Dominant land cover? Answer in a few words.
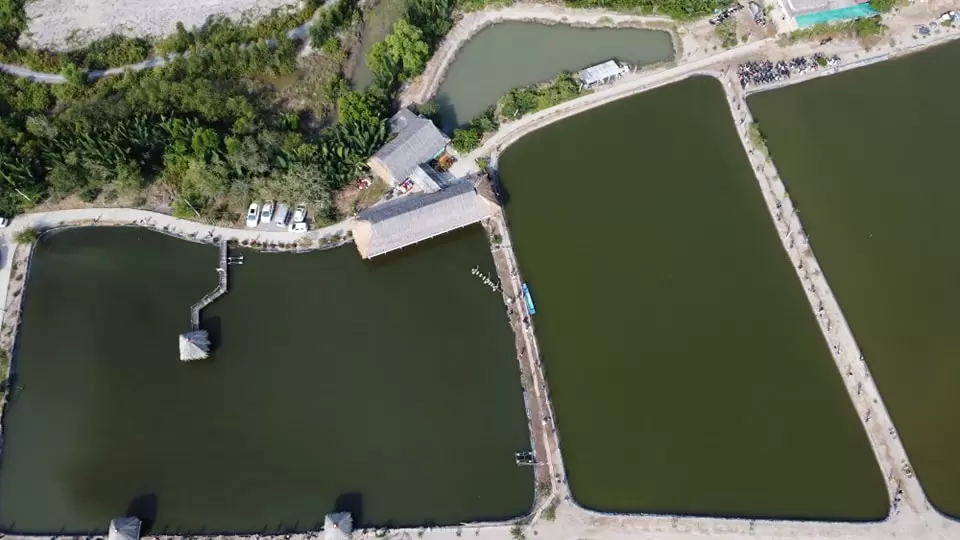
water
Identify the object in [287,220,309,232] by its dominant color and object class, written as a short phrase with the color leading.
white vehicle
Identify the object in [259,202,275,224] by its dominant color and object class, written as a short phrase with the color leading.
white car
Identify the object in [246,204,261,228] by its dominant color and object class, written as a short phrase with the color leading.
white car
